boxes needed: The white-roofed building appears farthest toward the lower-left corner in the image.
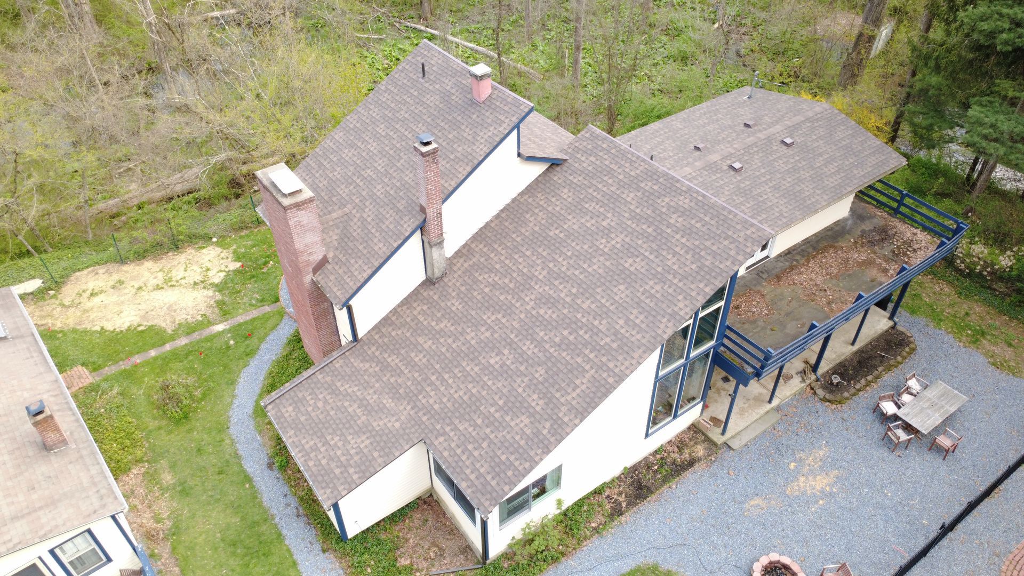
[0,280,141,576]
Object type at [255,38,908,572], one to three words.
house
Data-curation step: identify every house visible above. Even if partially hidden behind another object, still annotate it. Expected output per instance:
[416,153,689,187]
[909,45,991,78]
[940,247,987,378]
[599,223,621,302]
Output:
[255,38,908,572]
[0,280,141,576]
